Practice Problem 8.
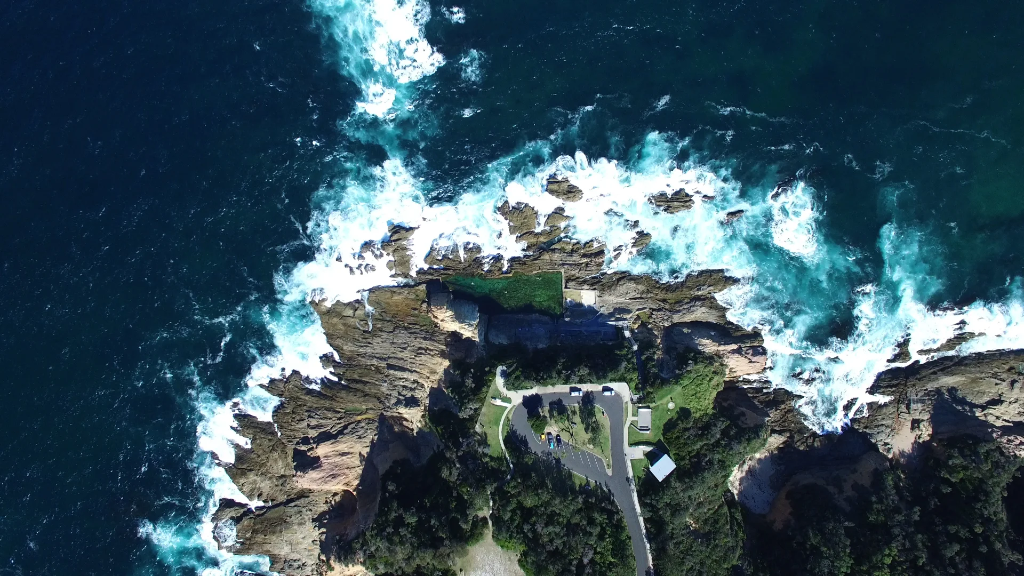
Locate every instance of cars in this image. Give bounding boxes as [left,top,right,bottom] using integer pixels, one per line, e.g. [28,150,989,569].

[556,435,563,448]
[603,390,615,396]
[570,391,583,396]
[547,433,554,448]
[540,433,546,442]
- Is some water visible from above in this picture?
Yes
